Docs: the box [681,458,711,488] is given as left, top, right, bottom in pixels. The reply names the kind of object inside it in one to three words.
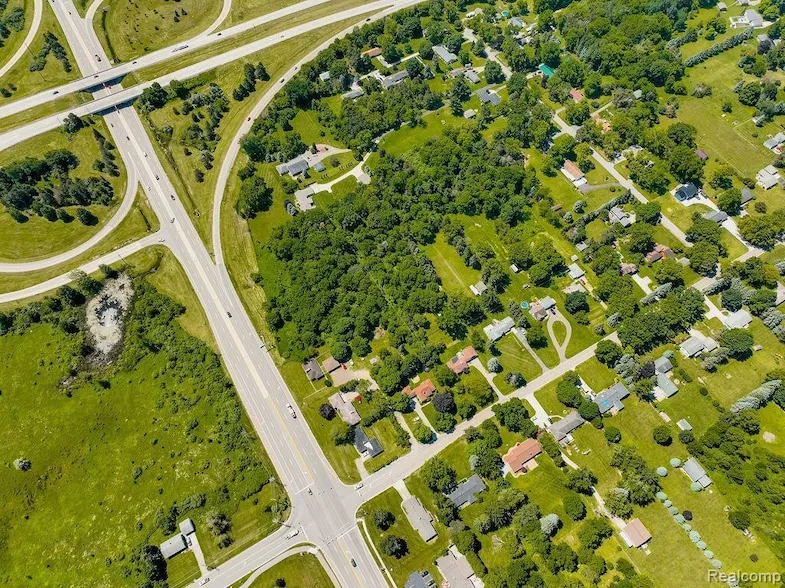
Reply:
barn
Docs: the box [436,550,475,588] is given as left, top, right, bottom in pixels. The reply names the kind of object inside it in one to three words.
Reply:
house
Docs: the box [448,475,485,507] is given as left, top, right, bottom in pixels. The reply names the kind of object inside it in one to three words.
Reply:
house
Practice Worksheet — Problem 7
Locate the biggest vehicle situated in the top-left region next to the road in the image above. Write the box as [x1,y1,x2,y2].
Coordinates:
[170,41,191,53]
